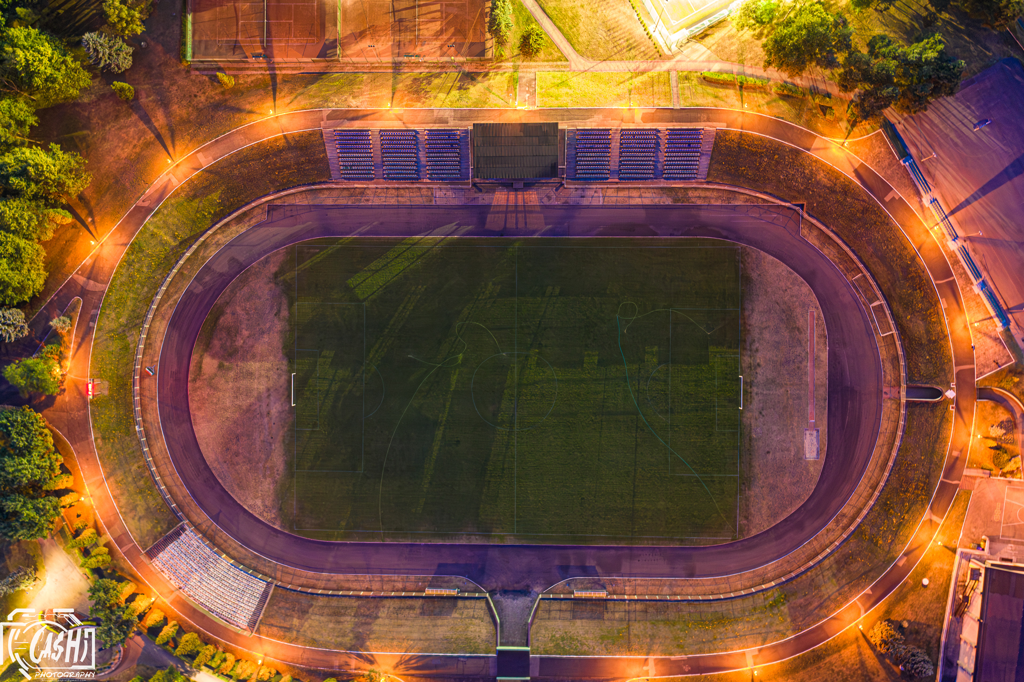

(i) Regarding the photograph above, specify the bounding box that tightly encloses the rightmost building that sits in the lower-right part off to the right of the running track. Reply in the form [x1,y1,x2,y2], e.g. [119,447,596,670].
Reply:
[938,536,1024,682]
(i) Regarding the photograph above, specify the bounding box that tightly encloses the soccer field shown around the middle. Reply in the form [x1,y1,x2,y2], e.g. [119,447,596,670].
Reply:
[188,237,827,547]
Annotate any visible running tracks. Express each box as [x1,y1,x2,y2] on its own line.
[157,204,884,592]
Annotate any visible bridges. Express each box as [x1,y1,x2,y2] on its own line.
[497,644,530,680]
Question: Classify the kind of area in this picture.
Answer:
sports ground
